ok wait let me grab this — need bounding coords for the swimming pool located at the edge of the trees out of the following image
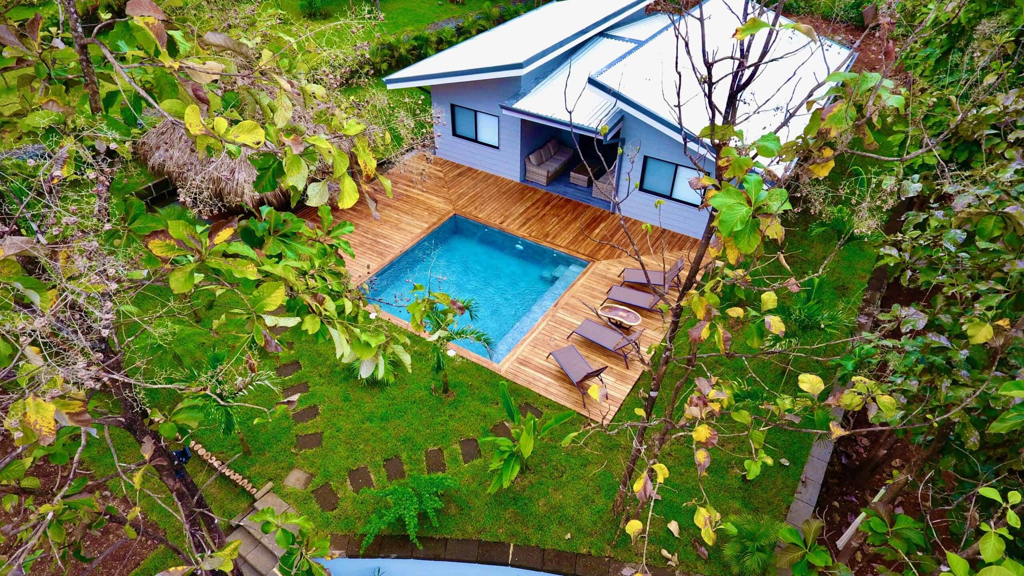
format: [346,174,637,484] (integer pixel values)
[353,215,589,363]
